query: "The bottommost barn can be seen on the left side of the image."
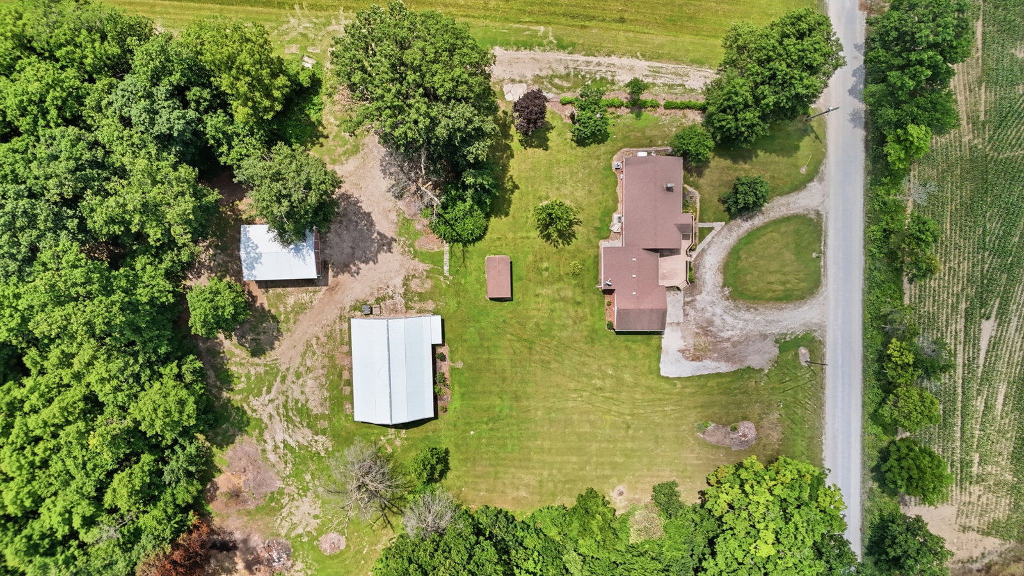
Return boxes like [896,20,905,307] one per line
[350,314,443,423]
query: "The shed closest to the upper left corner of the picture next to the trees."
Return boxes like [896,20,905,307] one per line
[240,224,322,281]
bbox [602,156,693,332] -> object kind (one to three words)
house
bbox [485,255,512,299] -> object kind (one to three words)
shed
